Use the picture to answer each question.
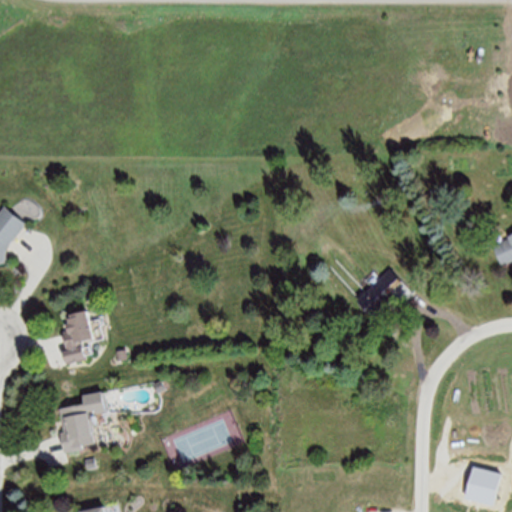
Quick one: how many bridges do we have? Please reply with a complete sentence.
The photo contains no bridges.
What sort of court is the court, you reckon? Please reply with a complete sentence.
It turns out the court is a tennis court.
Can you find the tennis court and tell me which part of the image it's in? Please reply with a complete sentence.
The tennis court appears toward the bottom of the photo.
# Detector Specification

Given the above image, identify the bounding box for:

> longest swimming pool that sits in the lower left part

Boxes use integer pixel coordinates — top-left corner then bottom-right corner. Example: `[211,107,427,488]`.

[121,390,150,404]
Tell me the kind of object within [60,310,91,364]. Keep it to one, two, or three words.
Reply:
house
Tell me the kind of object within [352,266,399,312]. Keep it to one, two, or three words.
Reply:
house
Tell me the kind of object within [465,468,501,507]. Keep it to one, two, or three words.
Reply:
barn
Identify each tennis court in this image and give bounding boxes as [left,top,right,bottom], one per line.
[162,410,244,472]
